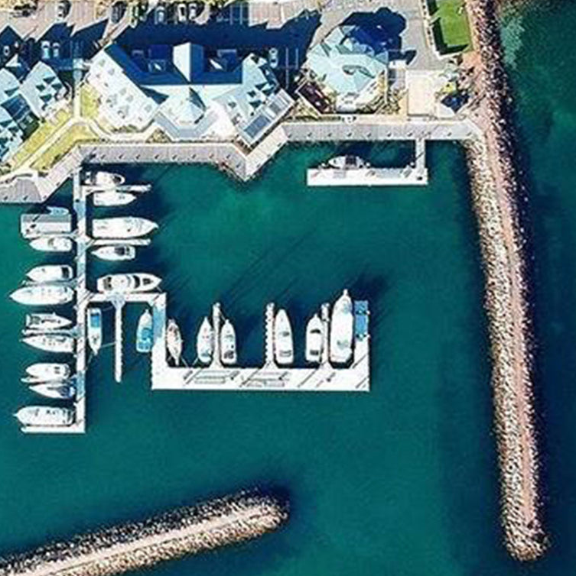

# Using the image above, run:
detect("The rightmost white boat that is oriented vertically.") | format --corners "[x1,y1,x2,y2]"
[331,289,355,367]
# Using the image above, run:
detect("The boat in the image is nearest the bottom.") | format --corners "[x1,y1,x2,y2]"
[13,406,76,425]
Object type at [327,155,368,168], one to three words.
boat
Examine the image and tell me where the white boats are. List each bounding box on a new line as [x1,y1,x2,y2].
[331,289,355,367]
[26,312,72,330]
[20,336,74,353]
[26,363,73,380]
[11,284,76,305]
[276,308,295,367]
[93,274,161,293]
[91,191,136,207]
[26,265,75,282]
[327,155,368,168]
[221,319,238,367]
[167,319,185,362]
[88,307,103,355]
[92,246,139,259]
[13,406,76,425]
[306,313,324,366]
[88,216,159,238]
[197,317,214,366]
[29,385,75,399]
[30,238,75,252]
